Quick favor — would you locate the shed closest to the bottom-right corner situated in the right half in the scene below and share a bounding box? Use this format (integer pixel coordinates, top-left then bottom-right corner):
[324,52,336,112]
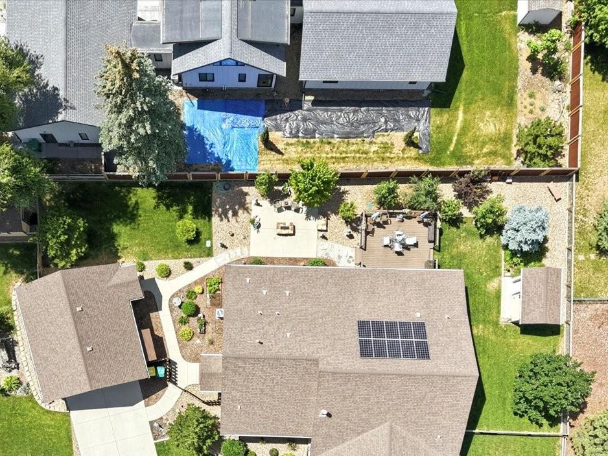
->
[512,265,562,325]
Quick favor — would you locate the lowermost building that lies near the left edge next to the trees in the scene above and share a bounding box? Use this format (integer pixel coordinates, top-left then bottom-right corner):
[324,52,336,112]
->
[14,261,151,404]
